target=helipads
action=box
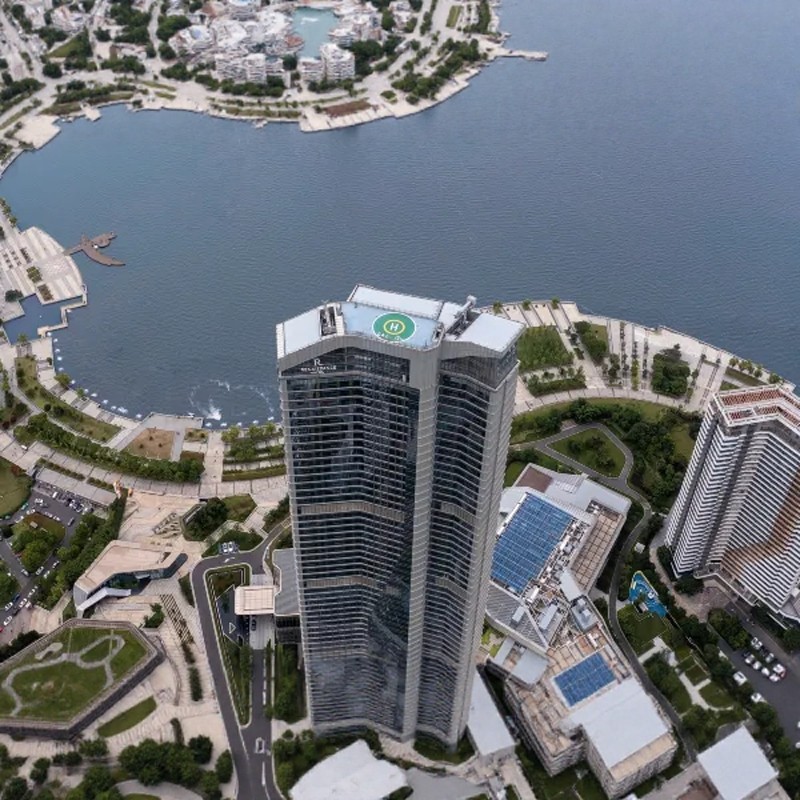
[373,312,417,340]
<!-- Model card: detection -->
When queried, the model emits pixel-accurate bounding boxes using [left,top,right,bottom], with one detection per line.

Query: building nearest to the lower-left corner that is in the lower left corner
[0,619,165,736]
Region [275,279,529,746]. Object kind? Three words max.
building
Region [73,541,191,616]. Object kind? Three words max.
building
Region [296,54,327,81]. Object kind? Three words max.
house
